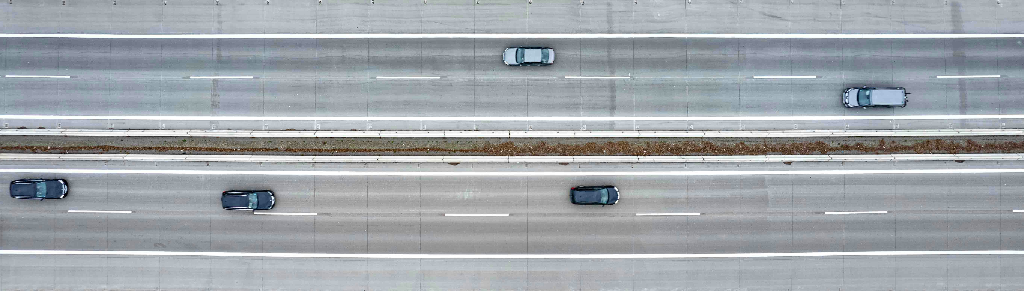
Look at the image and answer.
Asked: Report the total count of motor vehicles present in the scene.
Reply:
5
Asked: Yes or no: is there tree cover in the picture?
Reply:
No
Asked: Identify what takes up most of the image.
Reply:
paved ground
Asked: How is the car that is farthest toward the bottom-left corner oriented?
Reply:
from side to side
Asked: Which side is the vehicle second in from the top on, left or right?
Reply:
right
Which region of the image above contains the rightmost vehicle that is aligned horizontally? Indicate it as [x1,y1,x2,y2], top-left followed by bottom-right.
[843,86,912,110]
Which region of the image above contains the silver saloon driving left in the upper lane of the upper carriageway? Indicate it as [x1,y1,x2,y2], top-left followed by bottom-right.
[502,45,555,68]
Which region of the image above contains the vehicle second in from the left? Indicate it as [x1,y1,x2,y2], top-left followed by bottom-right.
[221,189,275,212]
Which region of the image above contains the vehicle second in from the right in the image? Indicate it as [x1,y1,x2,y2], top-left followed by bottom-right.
[570,184,620,207]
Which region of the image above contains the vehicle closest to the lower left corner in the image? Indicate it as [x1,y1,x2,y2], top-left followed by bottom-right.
[9,177,69,201]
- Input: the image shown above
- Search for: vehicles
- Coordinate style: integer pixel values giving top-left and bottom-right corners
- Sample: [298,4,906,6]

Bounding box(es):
[9,177,69,201]
[502,45,555,68]
[843,86,912,110]
[221,189,275,212]
[570,184,620,207]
